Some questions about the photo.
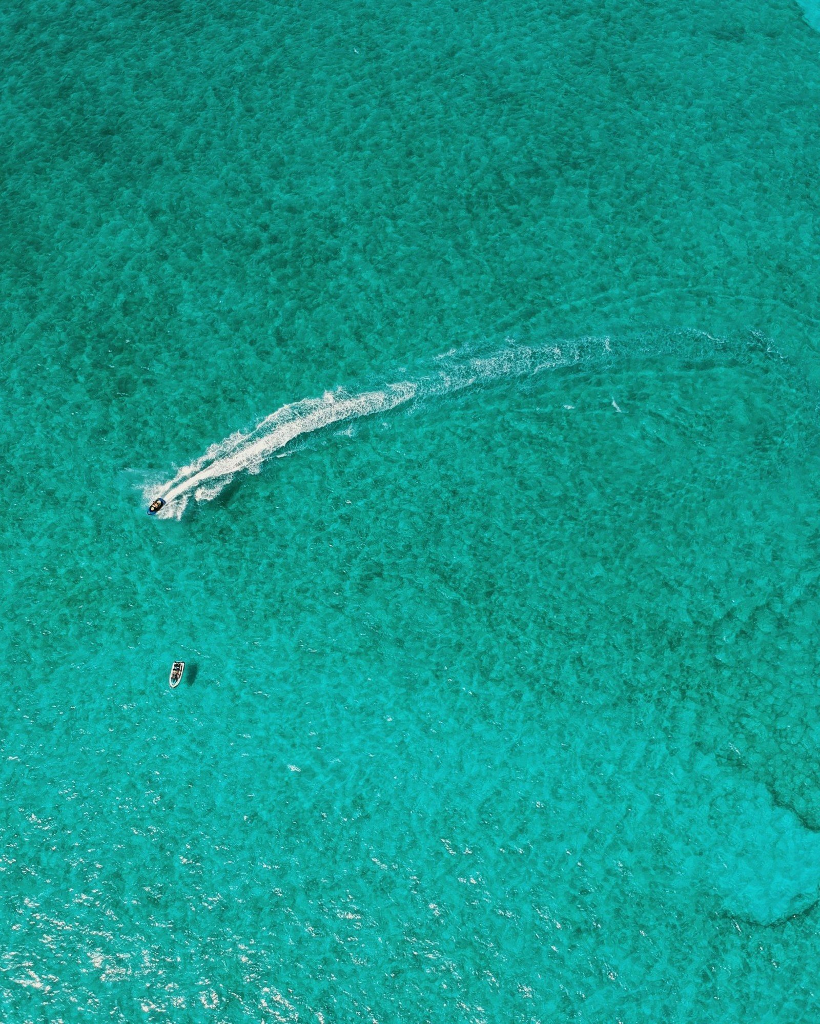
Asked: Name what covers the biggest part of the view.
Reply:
water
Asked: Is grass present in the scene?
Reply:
No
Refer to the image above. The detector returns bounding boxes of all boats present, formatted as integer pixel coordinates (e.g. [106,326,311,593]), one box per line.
[169,660,185,688]
[147,498,166,515]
